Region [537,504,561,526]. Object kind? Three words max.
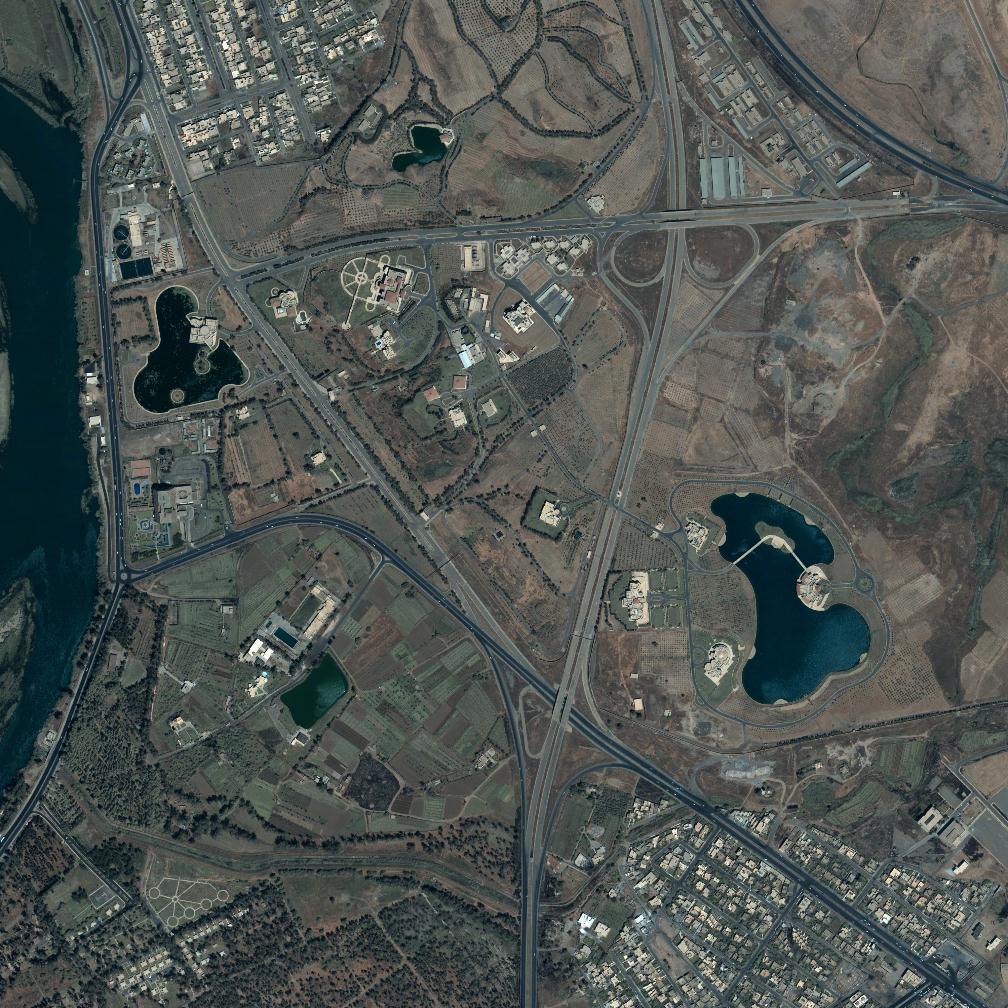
house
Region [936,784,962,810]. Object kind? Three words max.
building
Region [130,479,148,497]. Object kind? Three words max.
swimming pool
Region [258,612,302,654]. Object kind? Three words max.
swimming pool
